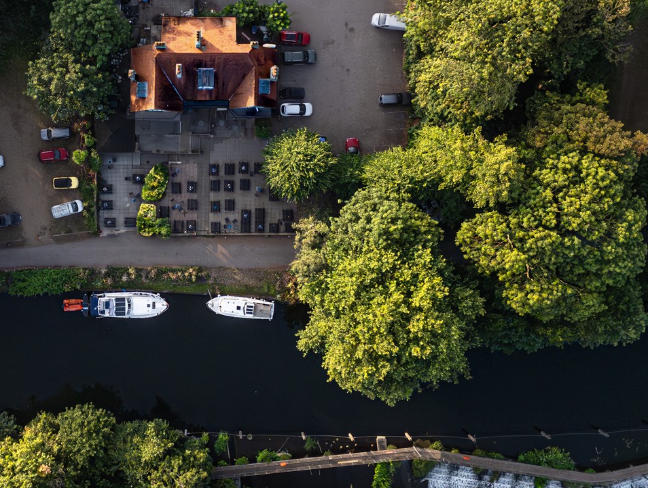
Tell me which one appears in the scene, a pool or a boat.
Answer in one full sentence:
I can see a boat in this picture.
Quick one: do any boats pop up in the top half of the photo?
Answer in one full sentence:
No, the scene shows no boat in the top half of the photo.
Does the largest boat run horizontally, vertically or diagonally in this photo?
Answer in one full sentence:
From this overhead view, the largest boat appears to run horizontally.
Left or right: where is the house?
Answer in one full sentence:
The house is on the left side of the image.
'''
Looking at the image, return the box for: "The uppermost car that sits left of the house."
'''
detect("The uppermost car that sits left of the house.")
[40,126,71,140]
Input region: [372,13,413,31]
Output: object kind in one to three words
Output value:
vehicle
